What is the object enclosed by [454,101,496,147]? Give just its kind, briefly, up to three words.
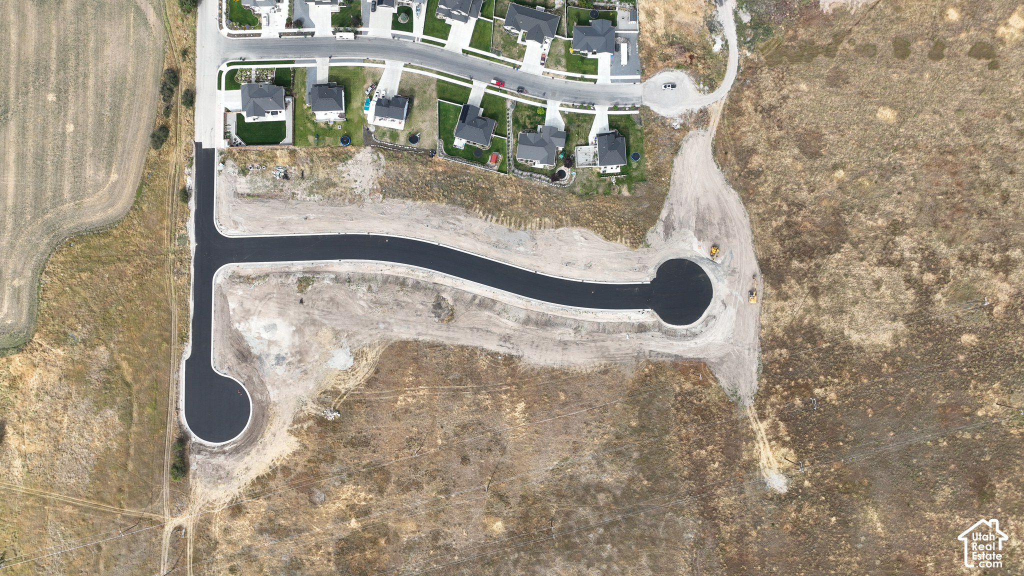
house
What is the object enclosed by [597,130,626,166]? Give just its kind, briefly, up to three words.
house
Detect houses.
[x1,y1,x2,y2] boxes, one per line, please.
[454,101,496,147]
[435,0,481,24]
[503,3,560,46]
[374,95,409,121]
[241,81,285,117]
[377,0,413,9]
[304,0,340,7]
[310,80,345,114]
[241,0,276,8]
[597,130,626,166]
[573,16,615,57]
[516,125,567,165]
